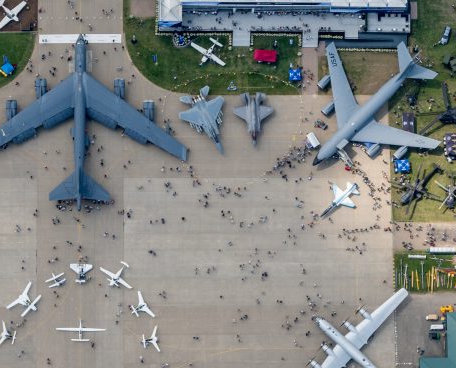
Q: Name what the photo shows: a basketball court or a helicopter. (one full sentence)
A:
Visible in the photo is a helicopter.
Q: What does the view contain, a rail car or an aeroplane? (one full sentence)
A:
This aerial view contains an aeroplane.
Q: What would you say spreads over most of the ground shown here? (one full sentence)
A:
What you mostly see from above here is paved ground.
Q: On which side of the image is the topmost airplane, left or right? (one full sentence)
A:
The topmost airplane appears in the left half of the scene.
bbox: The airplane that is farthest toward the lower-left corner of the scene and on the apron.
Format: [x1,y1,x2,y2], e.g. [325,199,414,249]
[0,319,18,344]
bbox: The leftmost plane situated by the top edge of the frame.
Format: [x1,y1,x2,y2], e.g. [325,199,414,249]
[0,0,28,28]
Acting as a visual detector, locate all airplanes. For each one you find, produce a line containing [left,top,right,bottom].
[322,176,364,217]
[190,37,224,66]
[312,41,443,166]
[6,281,41,317]
[179,85,225,155]
[0,319,18,344]
[70,260,92,284]
[55,319,106,344]
[141,324,163,352]
[301,288,409,368]
[98,259,133,288]
[0,0,28,28]
[233,91,274,146]
[130,289,155,318]
[0,34,186,208]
